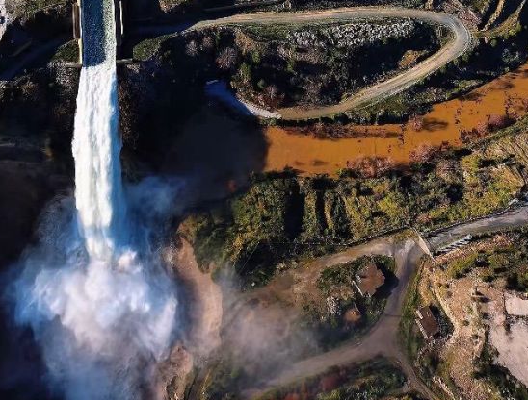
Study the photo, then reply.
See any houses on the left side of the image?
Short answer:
No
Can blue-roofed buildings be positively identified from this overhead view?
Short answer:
No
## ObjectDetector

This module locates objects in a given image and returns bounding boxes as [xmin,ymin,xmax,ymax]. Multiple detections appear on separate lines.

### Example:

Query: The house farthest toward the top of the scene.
[349,263,389,301]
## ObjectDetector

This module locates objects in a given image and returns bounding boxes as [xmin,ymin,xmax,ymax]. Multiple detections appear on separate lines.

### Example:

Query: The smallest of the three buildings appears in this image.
[342,303,364,327]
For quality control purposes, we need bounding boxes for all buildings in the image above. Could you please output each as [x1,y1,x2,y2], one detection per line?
[349,263,389,301]
[413,304,446,343]
[342,303,364,327]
